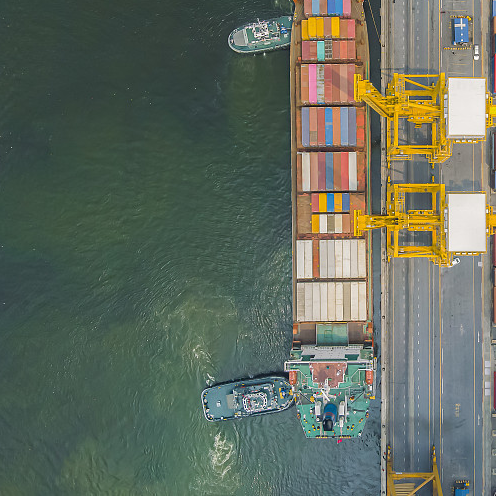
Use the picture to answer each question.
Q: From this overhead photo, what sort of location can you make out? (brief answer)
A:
port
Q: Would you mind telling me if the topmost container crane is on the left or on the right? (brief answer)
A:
right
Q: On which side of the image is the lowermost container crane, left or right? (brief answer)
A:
right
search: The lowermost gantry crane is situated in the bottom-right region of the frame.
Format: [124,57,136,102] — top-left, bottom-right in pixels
[388,446,444,496]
